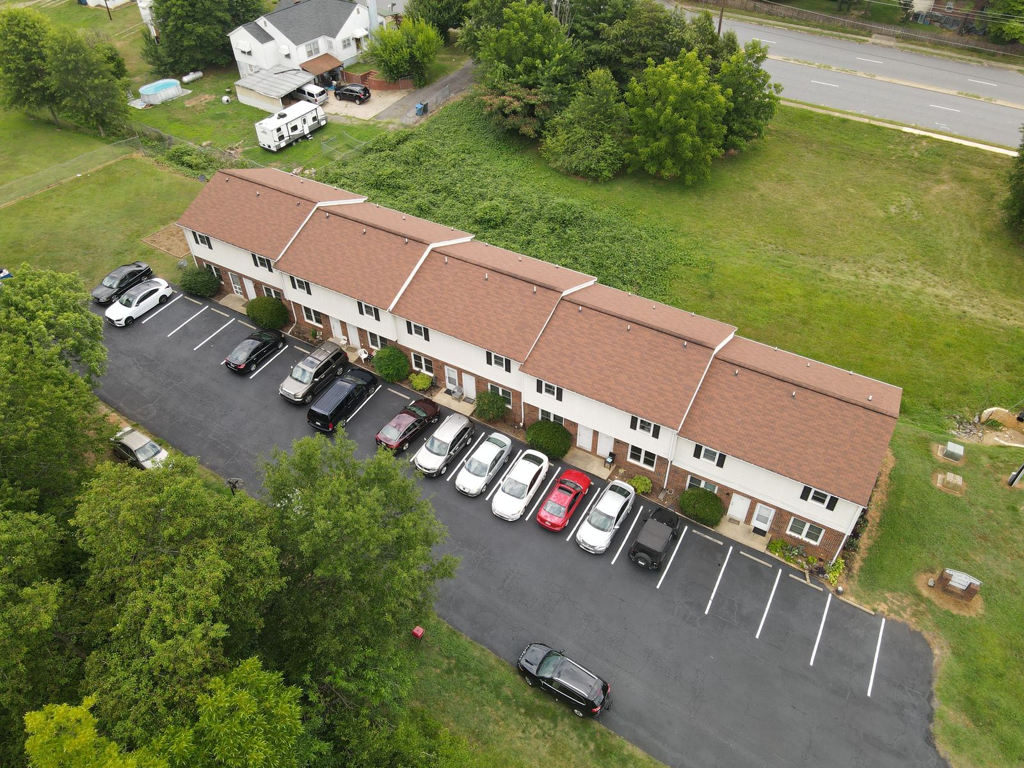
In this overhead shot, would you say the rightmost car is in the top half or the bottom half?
bottom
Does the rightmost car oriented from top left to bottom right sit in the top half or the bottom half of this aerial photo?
bottom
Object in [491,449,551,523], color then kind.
white car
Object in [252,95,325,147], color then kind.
white vehicle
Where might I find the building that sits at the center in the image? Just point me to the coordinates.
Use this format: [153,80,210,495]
[175,168,903,561]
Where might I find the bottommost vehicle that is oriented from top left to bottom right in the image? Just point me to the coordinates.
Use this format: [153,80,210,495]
[512,638,615,723]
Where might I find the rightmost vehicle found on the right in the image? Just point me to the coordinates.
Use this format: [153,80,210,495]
[629,506,683,577]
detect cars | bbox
[629,506,683,577]
[89,259,151,304]
[491,449,551,523]
[412,412,476,480]
[331,82,372,105]
[307,365,380,432]
[102,425,175,474]
[535,466,592,534]
[277,342,349,408]
[512,638,615,723]
[224,326,288,376]
[101,280,171,328]
[453,433,513,500]
[375,397,441,458]
[576,481,638,558]
[280,83,324,101]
